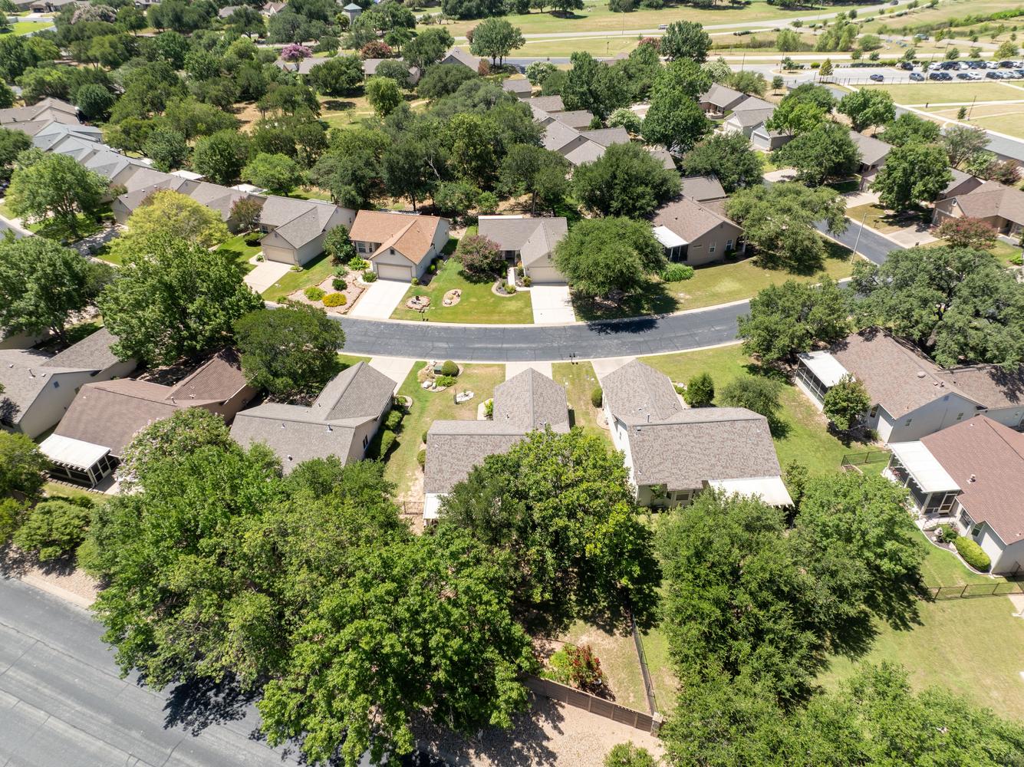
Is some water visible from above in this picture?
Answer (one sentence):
No, water can't be seen anywhere here.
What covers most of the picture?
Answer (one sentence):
For the most part, this view shows trees.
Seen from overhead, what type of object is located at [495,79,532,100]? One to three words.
house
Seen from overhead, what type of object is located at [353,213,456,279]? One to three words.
house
